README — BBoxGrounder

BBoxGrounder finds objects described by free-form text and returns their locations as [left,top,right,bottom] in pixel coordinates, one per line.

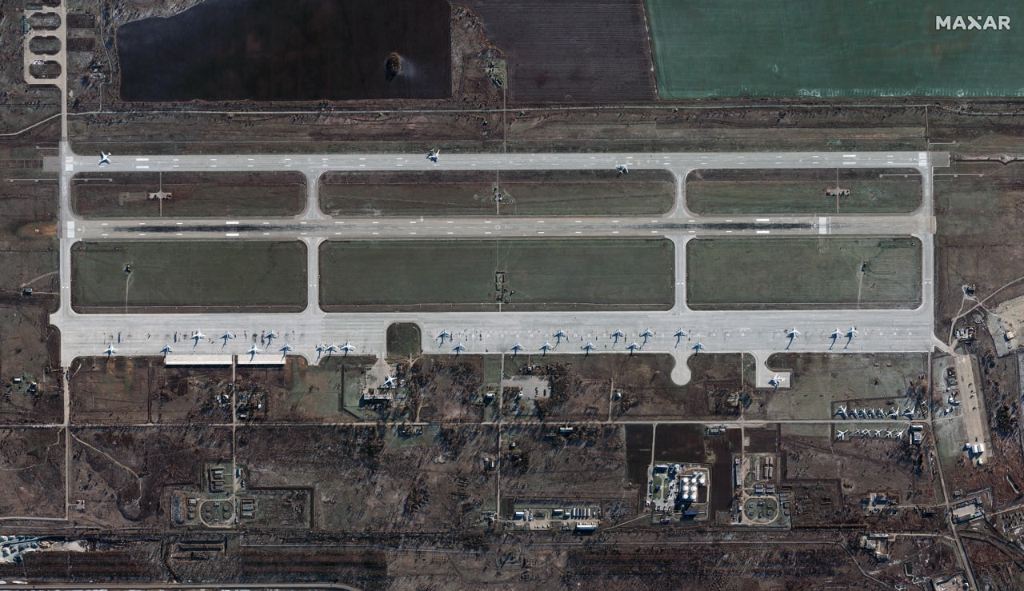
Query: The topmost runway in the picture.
[43,152,949,171]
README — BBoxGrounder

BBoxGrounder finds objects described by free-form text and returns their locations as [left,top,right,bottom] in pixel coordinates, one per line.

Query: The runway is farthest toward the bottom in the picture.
[58,216,936,238]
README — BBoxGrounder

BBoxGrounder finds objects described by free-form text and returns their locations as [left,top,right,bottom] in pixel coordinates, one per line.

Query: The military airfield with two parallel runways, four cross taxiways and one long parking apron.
[24,0,988,465]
